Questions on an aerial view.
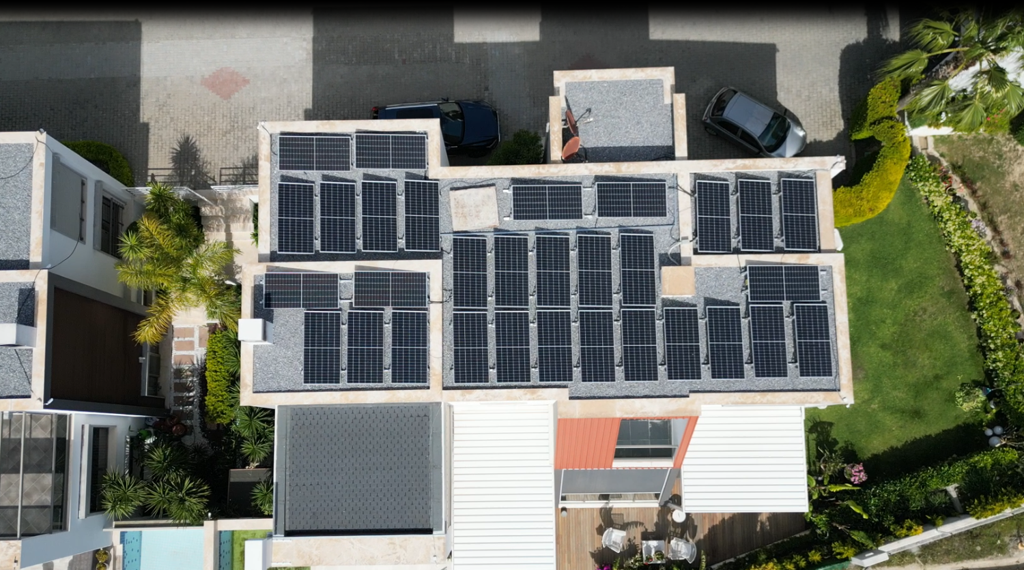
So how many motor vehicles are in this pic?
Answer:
2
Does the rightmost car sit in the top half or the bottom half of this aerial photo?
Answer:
top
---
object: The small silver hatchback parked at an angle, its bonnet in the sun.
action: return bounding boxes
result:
[703,82,805,158]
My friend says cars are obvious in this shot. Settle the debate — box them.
[703,82,805,158]
[371,97,498,158]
